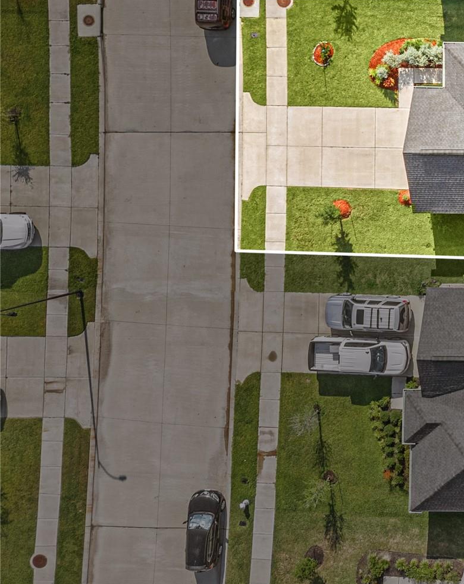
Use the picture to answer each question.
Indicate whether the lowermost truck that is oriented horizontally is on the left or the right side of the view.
right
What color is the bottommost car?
black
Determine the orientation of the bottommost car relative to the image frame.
vertically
